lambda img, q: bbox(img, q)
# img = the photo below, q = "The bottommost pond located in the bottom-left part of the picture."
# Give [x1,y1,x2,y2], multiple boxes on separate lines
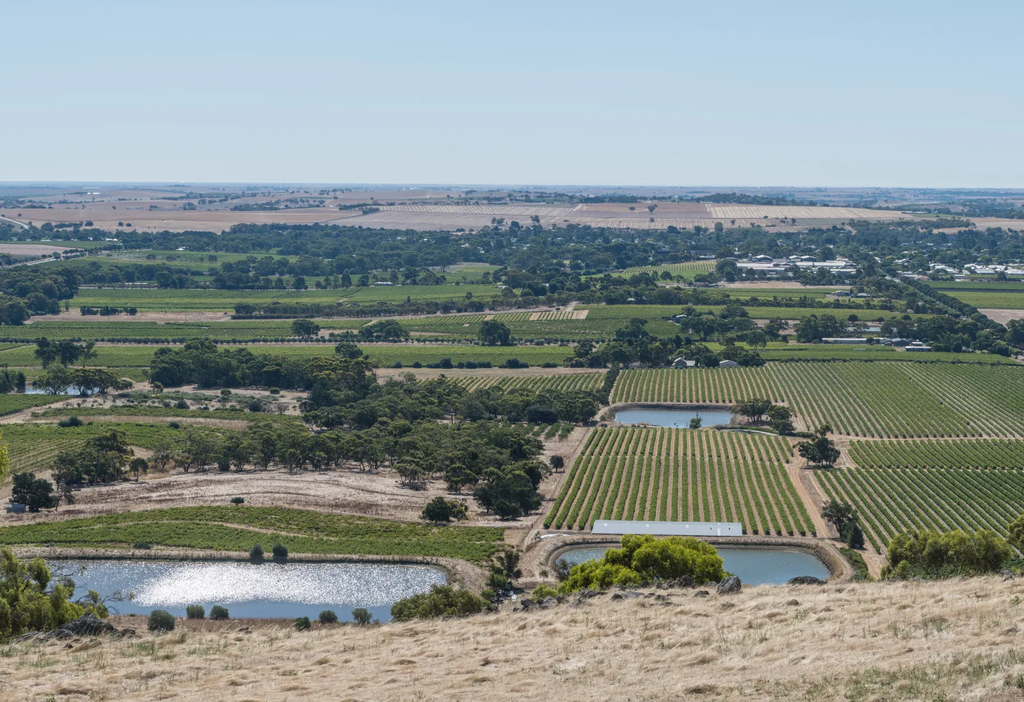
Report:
[45,561,452,622]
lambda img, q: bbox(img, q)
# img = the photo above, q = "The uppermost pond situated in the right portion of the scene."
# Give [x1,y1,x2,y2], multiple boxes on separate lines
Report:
[612,409,736,427]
